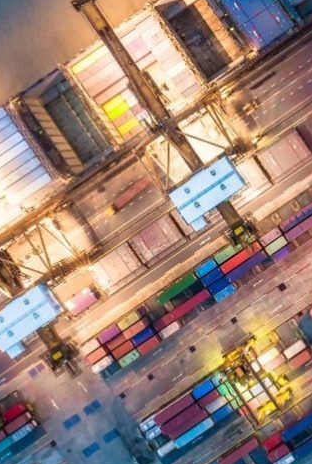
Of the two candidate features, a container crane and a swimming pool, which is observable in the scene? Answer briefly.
container crane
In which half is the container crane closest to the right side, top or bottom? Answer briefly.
bottom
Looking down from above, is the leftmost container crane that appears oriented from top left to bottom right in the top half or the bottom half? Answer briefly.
top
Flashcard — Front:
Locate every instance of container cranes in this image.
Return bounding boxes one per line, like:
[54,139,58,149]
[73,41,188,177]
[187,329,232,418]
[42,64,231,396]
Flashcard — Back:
[66,0,257,249]
[0,202,99,371]
[225,334,298,423]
